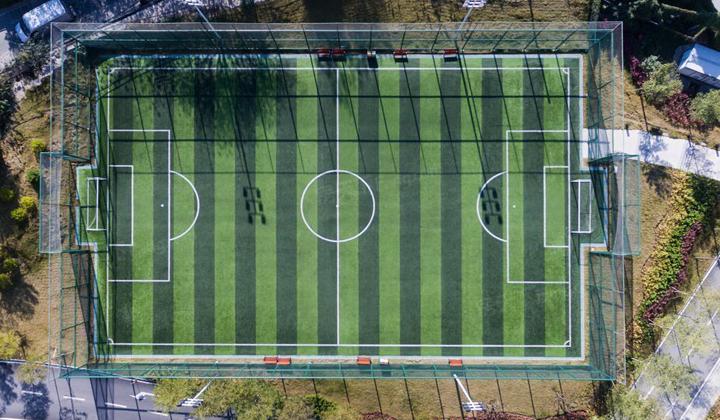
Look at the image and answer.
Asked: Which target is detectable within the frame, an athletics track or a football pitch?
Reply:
football pitch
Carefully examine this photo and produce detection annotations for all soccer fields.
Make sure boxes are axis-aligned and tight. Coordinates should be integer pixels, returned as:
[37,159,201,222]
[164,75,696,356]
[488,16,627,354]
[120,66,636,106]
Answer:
[77,53,605,359]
